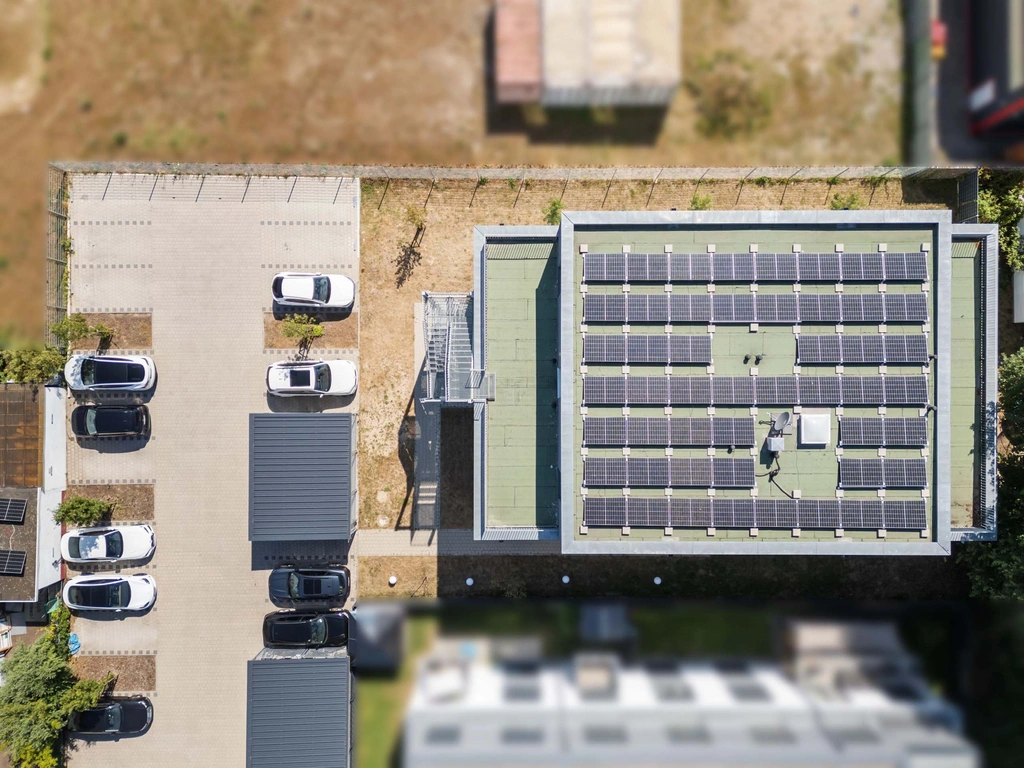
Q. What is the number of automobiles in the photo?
9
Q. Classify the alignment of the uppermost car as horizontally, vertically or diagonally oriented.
horizontally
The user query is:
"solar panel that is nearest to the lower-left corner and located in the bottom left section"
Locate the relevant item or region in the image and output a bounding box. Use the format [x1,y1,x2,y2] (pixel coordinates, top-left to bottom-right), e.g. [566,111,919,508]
[0,547,28,575]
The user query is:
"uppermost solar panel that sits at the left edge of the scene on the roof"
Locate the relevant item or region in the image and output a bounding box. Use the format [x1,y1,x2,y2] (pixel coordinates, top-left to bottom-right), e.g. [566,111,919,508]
[0,497,28,524]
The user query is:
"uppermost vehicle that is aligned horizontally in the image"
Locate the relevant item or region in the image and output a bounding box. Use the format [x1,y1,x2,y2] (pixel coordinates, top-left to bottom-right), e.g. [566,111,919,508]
[273,270,355,309]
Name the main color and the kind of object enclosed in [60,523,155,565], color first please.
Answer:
white car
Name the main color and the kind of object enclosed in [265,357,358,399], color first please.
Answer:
white car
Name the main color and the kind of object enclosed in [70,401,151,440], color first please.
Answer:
black car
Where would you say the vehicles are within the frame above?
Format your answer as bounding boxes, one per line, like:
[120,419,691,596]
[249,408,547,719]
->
[60,523,155,565]
[70,401,151,440]
[270,566,352,608]
[262,609,350,648]
[63,351,157,394]
[66,696,155,739]
[62,572,157,614]
[265,357,358,399]
[273,270,355,309]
